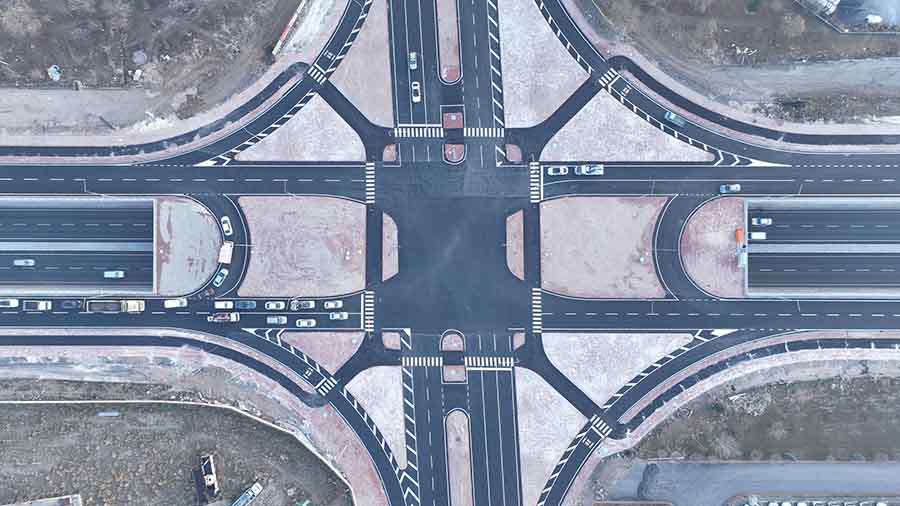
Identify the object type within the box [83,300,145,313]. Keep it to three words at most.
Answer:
vehicle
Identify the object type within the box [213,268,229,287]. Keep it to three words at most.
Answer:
car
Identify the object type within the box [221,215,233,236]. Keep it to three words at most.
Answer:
vehicle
